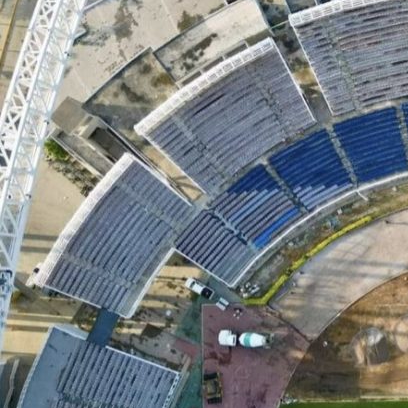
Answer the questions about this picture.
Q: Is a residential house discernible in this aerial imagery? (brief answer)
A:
Yes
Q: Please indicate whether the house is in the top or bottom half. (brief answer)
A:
top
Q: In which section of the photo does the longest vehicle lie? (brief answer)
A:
bottom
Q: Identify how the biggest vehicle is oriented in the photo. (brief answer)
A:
horizontally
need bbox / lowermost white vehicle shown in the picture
[218,329,277,349]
